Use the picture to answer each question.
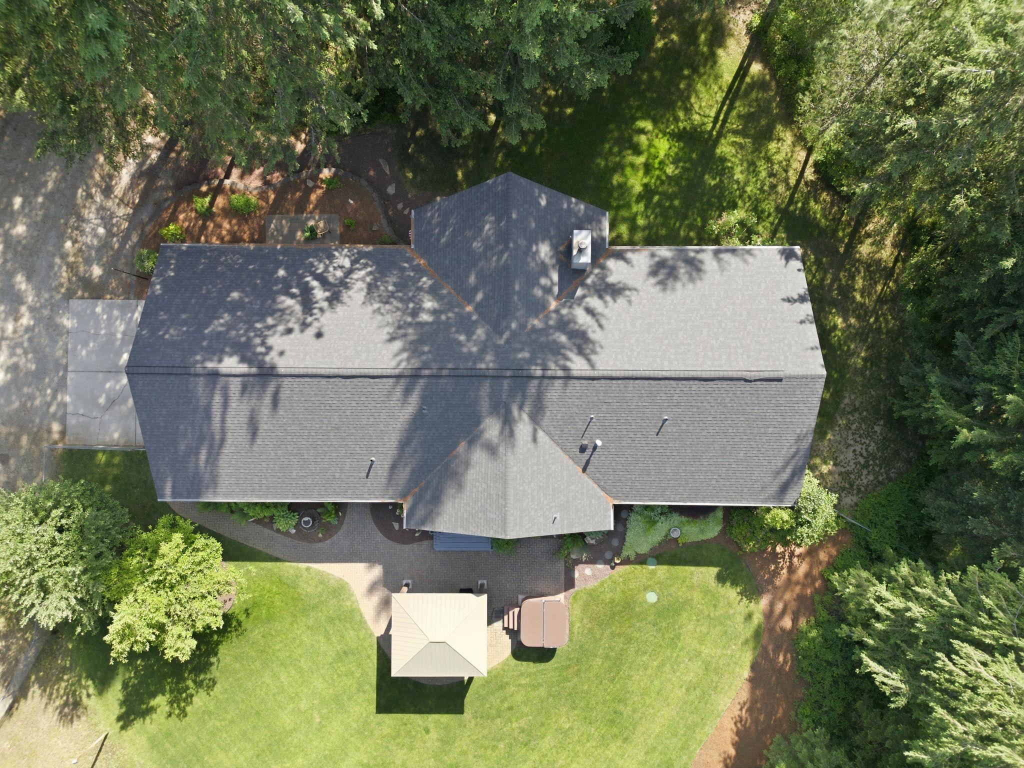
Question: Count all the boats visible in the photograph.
zero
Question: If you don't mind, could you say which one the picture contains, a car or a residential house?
residential house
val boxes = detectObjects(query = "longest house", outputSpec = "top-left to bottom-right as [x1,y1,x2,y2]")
[125,172,827,539]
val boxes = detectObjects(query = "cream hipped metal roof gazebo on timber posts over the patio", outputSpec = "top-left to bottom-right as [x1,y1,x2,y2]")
[391,581,488,678]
